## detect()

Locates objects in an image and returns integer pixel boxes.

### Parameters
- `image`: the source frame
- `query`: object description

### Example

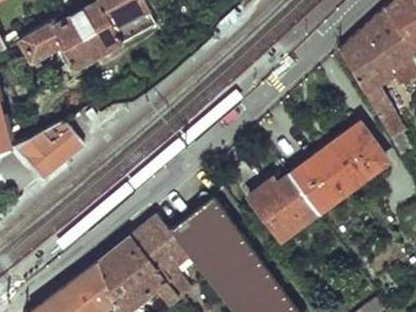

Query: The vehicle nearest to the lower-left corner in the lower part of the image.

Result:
[160,199,176,220]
